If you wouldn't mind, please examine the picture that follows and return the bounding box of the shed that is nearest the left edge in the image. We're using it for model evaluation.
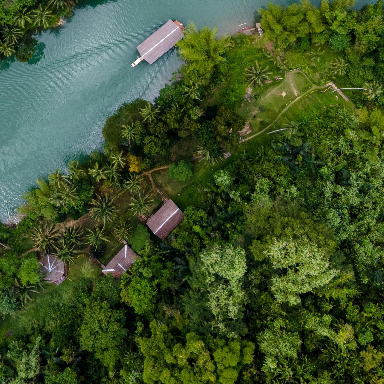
[40,257,65,286]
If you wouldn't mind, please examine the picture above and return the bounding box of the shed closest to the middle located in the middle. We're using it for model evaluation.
[147,199,184,239]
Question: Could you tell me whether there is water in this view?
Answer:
Yes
